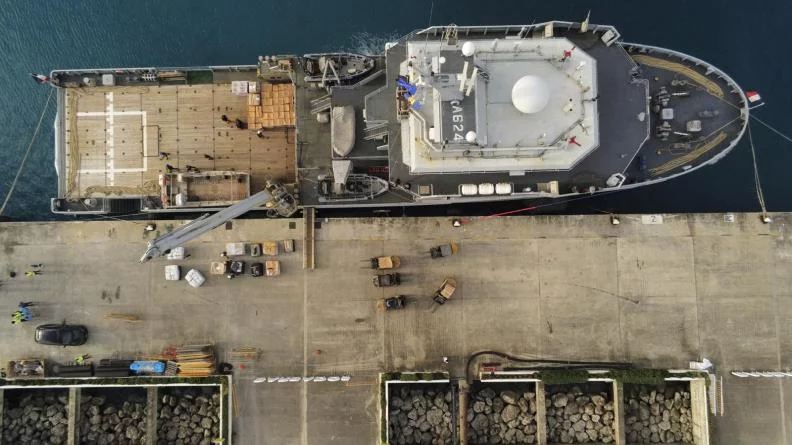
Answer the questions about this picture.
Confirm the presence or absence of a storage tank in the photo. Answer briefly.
No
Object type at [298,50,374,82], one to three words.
boat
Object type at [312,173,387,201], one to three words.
boat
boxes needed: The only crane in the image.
[138,167,299,262]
